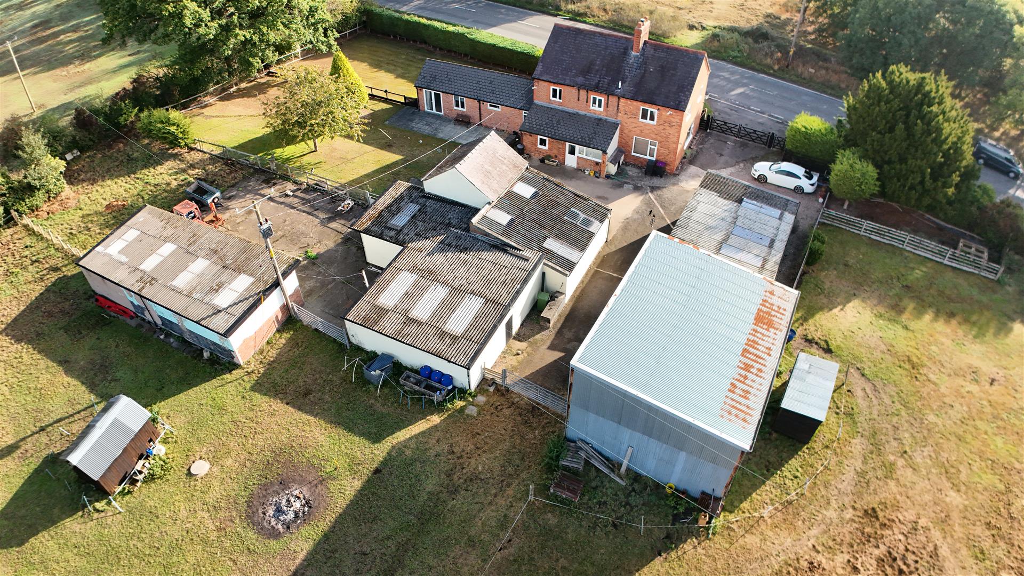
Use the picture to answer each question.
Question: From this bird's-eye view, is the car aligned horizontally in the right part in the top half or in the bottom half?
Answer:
top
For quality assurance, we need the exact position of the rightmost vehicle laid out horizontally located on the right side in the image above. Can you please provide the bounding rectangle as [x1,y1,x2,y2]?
[751,162,822,194]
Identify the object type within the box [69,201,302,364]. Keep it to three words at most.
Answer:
shed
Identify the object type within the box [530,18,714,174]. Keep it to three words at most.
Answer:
house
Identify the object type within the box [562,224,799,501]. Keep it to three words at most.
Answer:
barn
